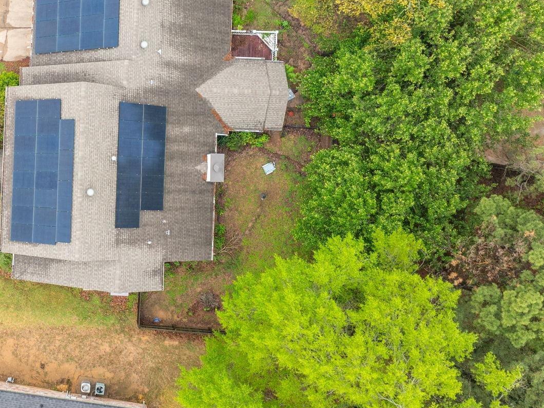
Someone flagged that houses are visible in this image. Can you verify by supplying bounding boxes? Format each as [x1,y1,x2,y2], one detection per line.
[0,377,155,408]
[0,0,287,295]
